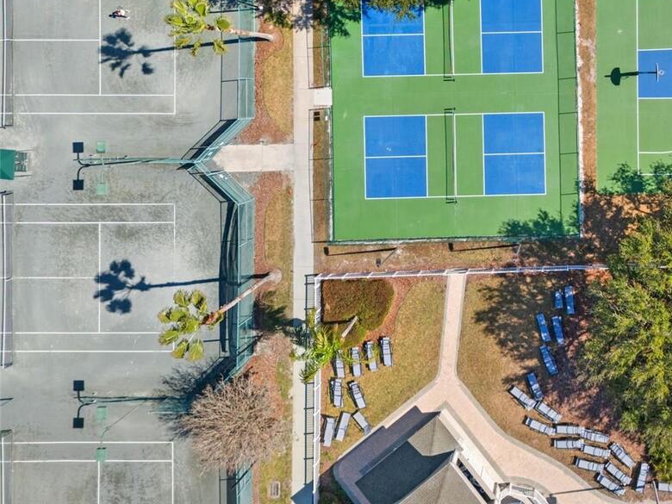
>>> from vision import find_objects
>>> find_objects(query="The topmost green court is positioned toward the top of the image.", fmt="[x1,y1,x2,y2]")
[331,0,577,97]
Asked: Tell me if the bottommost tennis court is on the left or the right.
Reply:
left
